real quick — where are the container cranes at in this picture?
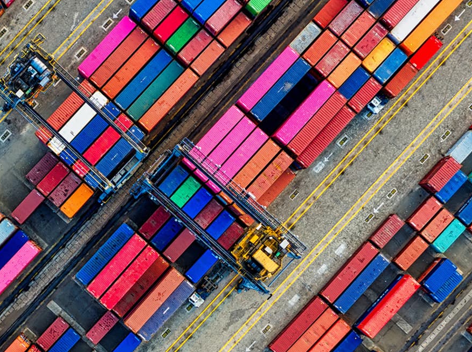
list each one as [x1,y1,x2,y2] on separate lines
[130,136,307,299]
[0,31,160,207]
